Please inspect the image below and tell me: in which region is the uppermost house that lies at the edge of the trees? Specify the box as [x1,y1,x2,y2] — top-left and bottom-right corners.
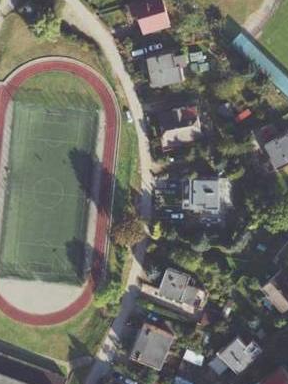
[130,0,172,36]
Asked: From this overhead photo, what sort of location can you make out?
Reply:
sports ground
